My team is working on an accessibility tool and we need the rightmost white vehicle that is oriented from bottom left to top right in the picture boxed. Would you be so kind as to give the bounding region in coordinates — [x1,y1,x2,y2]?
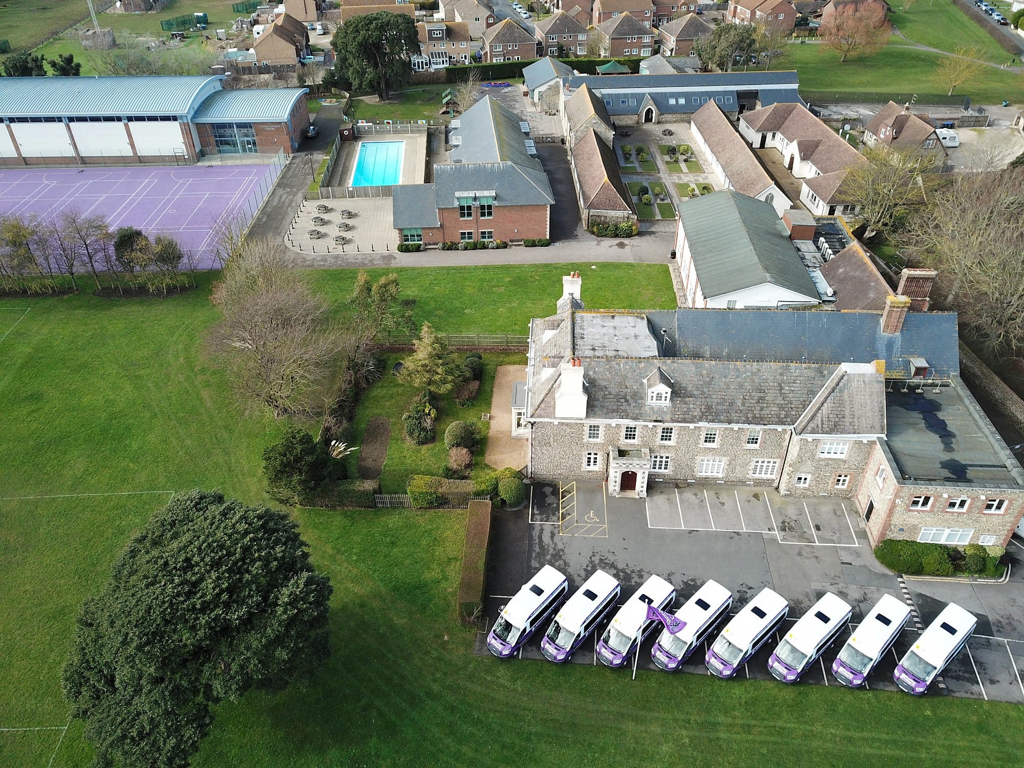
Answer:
[887,603,978,700]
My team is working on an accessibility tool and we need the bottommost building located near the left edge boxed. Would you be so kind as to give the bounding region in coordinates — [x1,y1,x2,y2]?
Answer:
[0,74,305,167]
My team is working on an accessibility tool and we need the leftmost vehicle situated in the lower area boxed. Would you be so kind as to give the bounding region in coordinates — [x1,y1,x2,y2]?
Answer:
[486,564,570,663]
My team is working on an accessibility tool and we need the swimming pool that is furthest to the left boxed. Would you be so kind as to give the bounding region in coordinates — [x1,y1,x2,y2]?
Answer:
[350,140,405,186]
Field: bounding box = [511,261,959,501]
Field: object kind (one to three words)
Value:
house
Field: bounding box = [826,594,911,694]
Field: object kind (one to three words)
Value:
vehicle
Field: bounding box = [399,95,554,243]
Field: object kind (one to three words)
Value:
building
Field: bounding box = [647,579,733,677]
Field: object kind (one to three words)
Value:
vehicle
